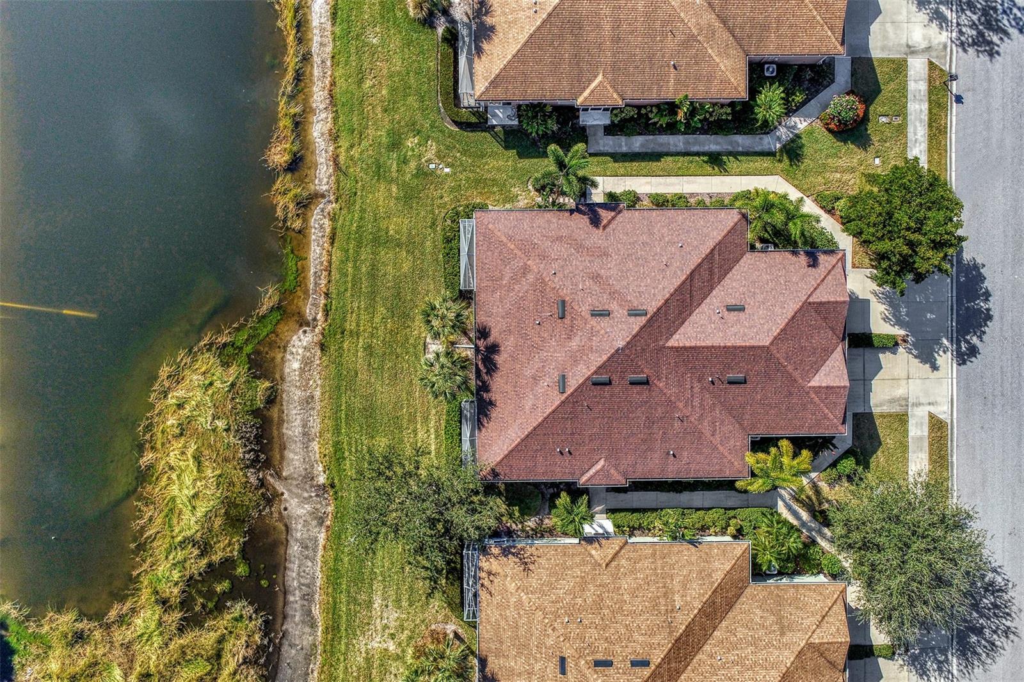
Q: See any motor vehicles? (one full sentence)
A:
No, this view has no motor vehicle in it.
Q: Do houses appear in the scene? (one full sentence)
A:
Yes, I can see a house in this picture.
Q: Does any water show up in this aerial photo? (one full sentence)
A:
Yes, the picture does contain water.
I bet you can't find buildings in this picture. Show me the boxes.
[459,0,848,119]
[459,201,850,487]
[463,528,852,682]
